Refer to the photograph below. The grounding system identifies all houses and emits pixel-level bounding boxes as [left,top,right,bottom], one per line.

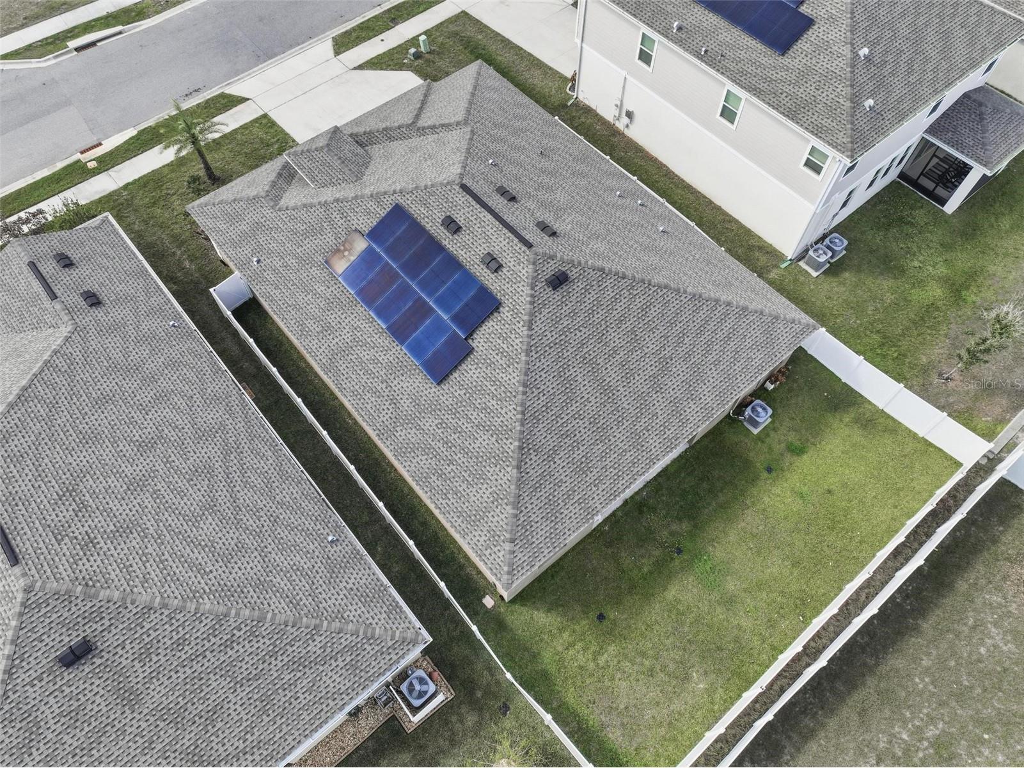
[571,0,1024,260]
[187,62,822,602]
[0,210,436,768]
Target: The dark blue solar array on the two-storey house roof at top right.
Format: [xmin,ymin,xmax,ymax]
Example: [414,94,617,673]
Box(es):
[694,0,813,54]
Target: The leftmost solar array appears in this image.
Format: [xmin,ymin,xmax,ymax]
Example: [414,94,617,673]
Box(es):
[324,204,497,383]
